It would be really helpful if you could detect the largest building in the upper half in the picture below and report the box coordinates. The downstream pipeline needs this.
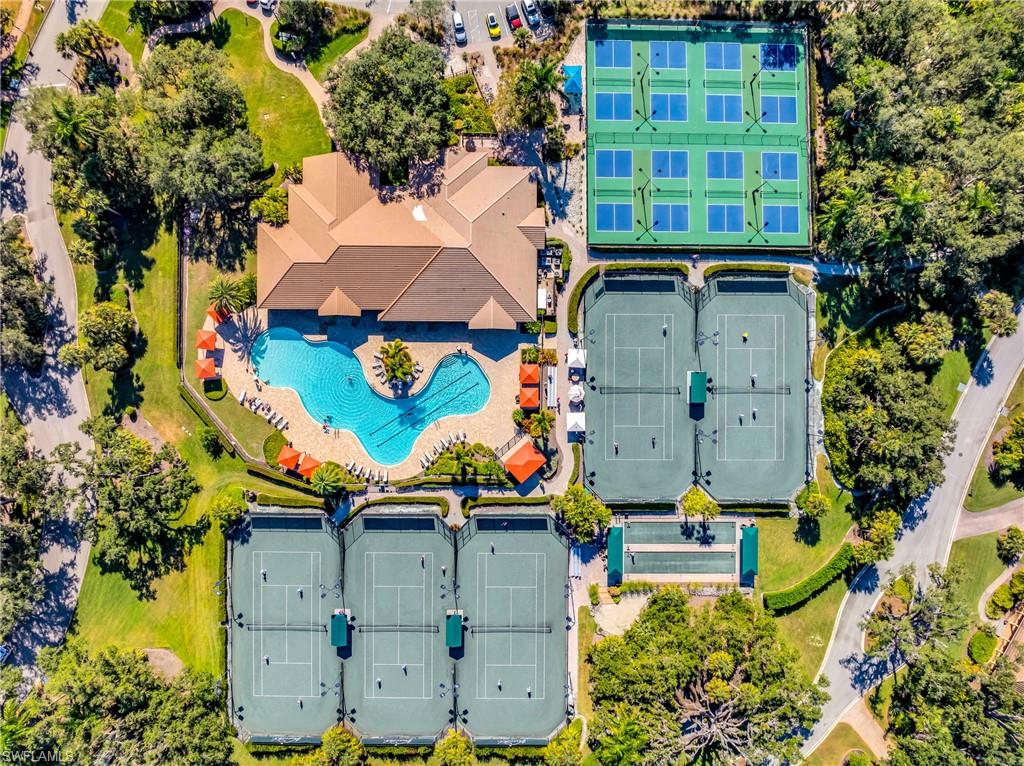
[256,136,547,330]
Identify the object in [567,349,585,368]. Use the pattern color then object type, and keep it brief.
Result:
white tent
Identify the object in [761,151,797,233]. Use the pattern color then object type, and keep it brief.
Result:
blue sports court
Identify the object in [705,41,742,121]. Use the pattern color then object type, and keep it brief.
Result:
blue sports court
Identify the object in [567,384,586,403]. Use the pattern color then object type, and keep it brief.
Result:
white umbrella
